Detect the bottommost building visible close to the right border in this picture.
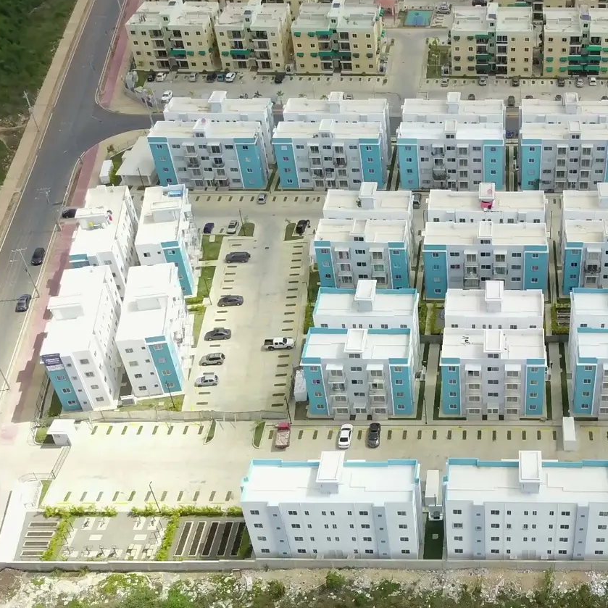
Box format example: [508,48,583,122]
[442,451,608,562]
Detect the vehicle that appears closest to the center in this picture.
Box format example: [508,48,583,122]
[264,336,294,350]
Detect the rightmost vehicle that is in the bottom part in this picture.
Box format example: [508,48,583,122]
[367,422,382,446]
